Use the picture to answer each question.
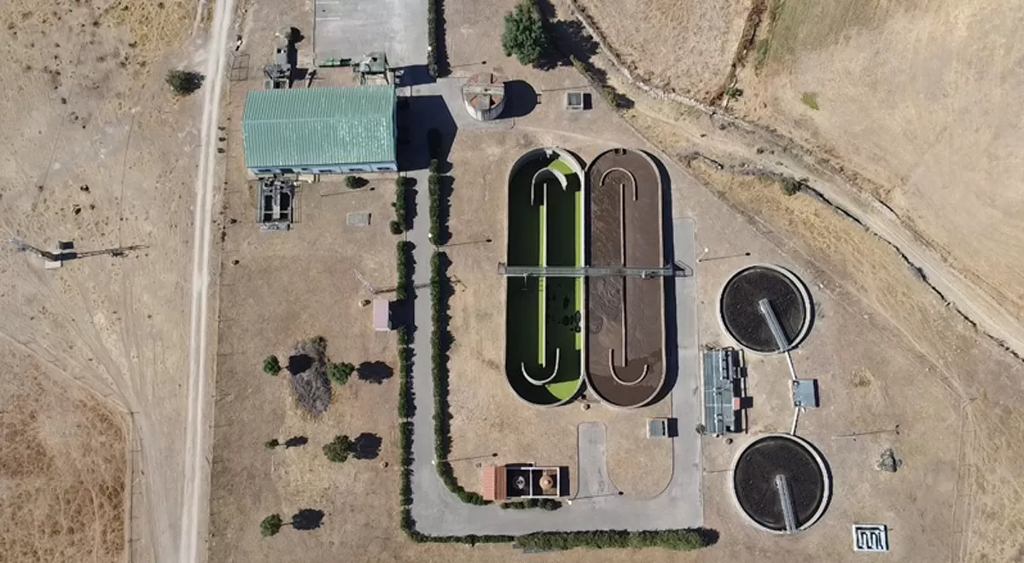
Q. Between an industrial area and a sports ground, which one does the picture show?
industrial area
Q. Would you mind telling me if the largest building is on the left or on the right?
left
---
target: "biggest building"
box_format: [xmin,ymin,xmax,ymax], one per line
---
[243,86,399,177]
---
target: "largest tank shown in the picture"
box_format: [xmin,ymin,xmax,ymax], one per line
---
[500,147,685,409]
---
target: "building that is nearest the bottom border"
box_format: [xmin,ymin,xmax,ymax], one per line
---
[483,463,561,502]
